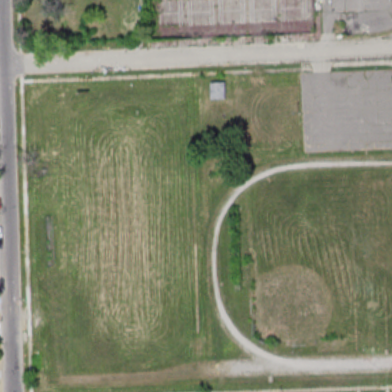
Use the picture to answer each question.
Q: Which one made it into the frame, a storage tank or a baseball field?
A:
baseball field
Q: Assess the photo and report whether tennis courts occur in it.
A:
Yes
